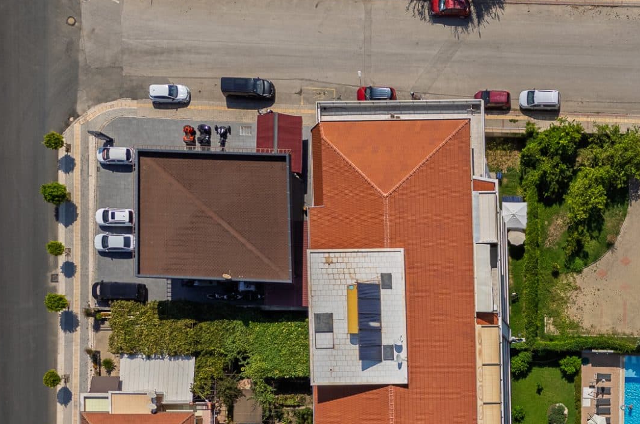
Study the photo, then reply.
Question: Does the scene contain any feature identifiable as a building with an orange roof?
Yes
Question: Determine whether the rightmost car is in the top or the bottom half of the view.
top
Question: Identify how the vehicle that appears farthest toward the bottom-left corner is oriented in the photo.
horizontally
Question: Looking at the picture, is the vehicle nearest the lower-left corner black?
Yes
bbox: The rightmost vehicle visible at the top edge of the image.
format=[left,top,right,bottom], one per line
[430,0,470,19]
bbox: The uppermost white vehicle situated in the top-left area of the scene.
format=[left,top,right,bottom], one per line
[150,81,192,104]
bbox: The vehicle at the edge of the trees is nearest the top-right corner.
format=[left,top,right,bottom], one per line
[520,88,560,111]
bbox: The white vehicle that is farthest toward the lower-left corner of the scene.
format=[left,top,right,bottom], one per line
[95,232,136,253]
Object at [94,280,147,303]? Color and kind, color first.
black vehicle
